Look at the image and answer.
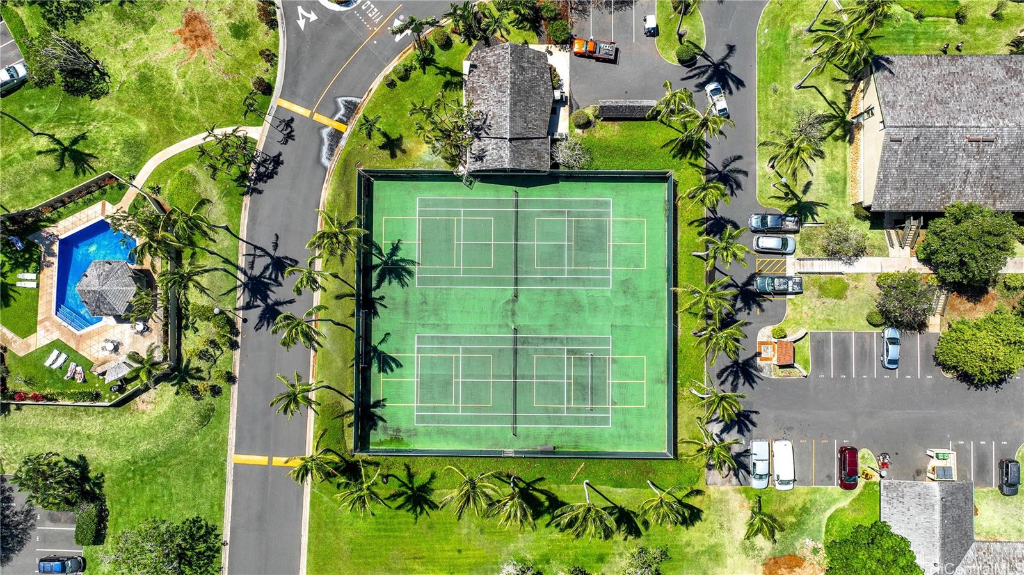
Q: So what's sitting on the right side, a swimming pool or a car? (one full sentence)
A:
Visible on the right side is a car.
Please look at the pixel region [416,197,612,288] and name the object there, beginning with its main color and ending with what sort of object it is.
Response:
green tennis court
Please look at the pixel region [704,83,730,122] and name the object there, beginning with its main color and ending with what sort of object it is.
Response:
white car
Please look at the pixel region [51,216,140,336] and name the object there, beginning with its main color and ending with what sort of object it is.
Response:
blue swimming pool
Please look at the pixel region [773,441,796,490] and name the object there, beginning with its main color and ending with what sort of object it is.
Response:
white vehicle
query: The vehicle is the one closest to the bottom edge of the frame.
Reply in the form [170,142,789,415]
[36,554,88,575]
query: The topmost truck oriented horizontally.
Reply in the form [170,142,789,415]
[573,38,617,61]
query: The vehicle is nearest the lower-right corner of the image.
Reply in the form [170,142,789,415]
[997,456,1022,496]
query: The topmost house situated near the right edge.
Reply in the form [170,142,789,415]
[849,55,1024,249]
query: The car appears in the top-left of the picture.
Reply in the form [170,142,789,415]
[0,65,31,91]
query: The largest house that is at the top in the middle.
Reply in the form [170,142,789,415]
[465,42,554,170]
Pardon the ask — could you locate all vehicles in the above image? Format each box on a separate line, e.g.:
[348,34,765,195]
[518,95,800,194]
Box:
[643,14,657,39]
[573,38,617,61]
[753,235,795,254]
[754,276,803,296]
[36,554,88,575]
[879,329,900,369]
[749,441,771,488]
[997,456,1022,496]
[838,446,861,489]
[704,83,730,122]
[0,65,31,91]
[750,213,802,234]
[773,441,796,490]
